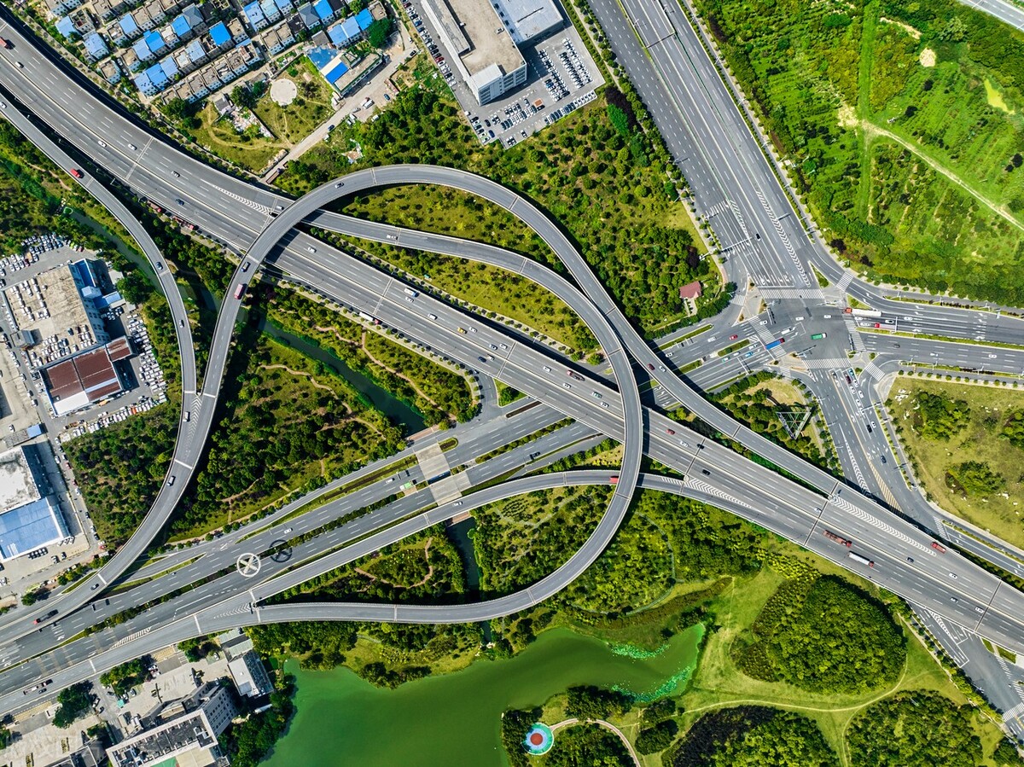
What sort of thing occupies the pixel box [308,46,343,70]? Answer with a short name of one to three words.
building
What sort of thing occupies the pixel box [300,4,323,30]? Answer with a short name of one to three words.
house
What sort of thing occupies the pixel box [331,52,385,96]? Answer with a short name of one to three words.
building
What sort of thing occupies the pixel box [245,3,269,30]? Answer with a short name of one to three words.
house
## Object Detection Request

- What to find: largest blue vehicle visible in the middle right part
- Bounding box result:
[765,337,787,349]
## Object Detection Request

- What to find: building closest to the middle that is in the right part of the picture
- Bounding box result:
[678,281,702,299]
